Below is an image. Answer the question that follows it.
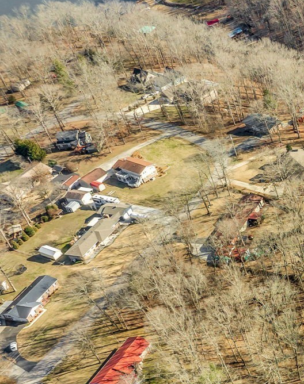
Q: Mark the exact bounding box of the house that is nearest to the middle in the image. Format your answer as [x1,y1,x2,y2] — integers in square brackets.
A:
[112,156,157,190]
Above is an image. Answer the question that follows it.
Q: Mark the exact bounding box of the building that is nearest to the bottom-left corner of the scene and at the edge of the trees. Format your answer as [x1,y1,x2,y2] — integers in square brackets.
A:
[0,276,59,325]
